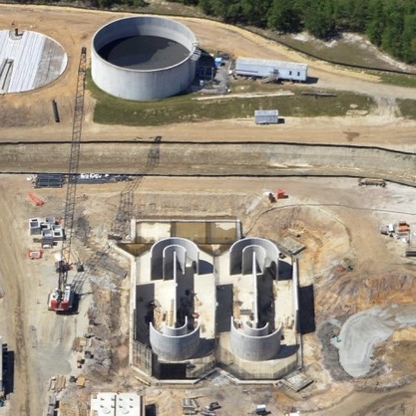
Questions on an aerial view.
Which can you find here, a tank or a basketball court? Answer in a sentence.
Looking from above, you can make out a tank.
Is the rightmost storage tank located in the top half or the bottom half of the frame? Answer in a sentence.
The top half of the photo is where the rightmost storage tank is.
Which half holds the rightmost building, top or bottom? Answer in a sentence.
The rightmost building sits in the top half of the picture.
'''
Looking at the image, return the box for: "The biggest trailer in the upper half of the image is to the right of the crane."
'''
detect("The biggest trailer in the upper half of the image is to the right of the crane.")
[234,56,308,84]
